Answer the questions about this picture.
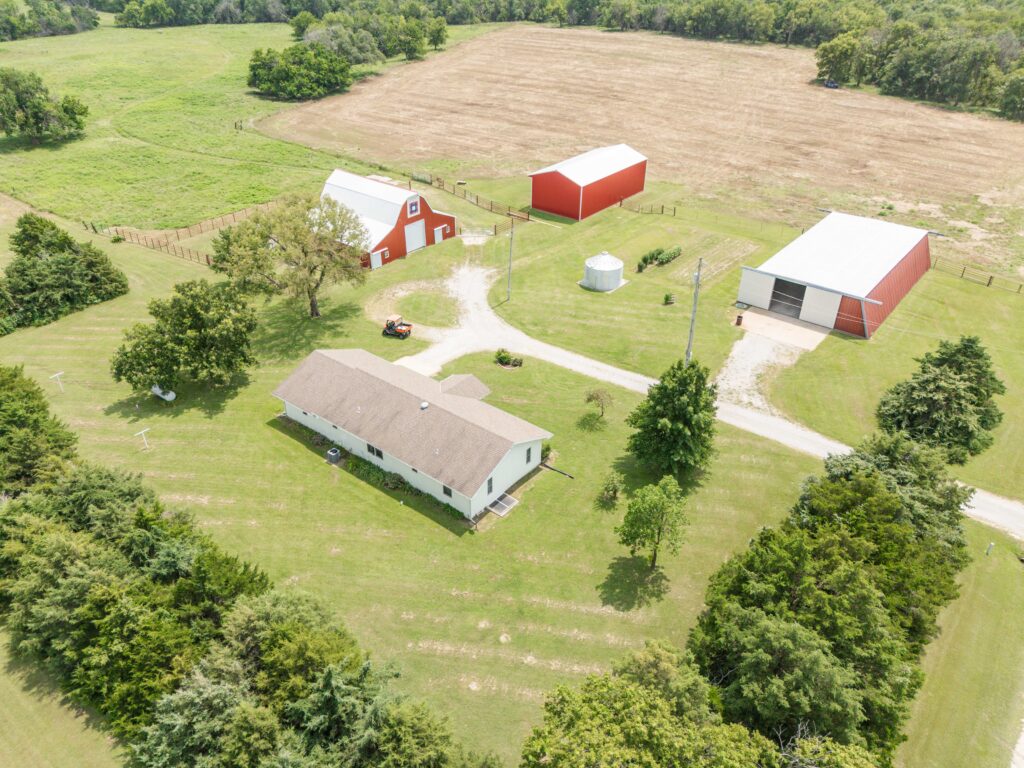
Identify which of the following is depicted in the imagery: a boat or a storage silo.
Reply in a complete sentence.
Looking from above, you can make out a storage silo.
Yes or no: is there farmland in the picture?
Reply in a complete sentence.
Yes, farmland can be seen from above here.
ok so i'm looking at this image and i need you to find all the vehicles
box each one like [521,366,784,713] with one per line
[381,312,412,339]
[825,76,839,87]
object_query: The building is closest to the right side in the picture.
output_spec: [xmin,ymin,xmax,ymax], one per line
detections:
[736,208,943,338]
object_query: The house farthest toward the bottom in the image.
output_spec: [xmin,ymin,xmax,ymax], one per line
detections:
[271,349,553,522]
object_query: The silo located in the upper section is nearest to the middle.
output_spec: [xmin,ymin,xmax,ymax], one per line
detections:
[576,251,631,294]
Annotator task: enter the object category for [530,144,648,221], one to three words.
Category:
shed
